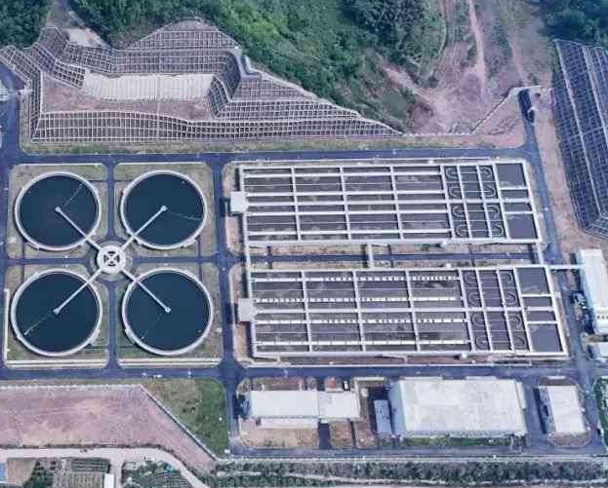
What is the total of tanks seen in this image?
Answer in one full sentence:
In total, 4 tanks can be seen.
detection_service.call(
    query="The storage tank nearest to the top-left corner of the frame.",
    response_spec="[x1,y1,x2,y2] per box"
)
[14,172,102,253]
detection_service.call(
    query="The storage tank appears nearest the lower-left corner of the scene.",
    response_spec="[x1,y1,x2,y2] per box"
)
[10,268,103,358]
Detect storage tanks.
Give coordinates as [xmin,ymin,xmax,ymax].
[10,268,103,358]
[120,170,207,251]
[121,268,213,356]
[14,172,102,253]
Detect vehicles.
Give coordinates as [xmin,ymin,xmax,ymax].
[152,373,163,378]
[343,382,349,391]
